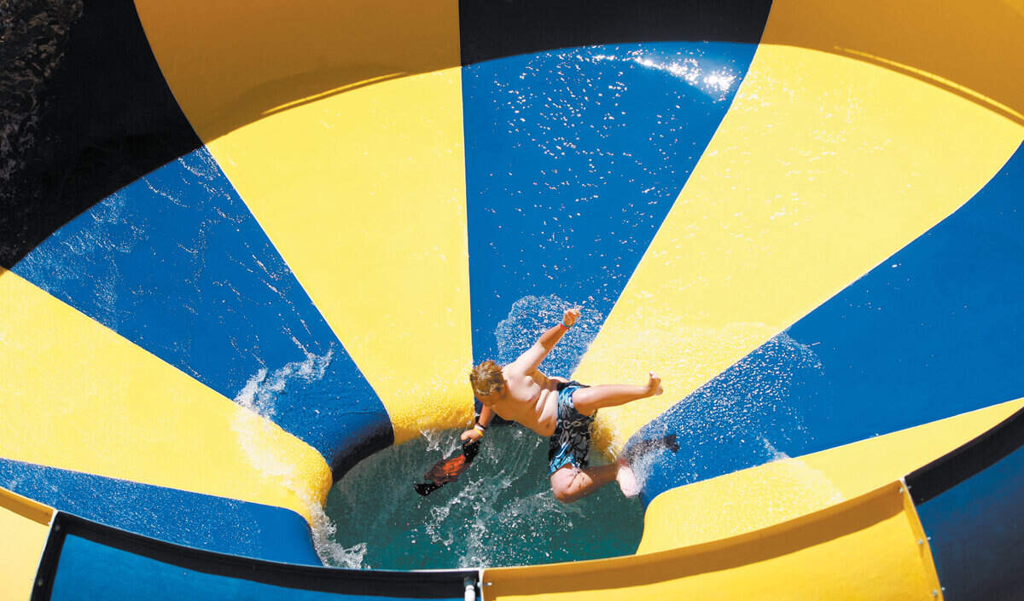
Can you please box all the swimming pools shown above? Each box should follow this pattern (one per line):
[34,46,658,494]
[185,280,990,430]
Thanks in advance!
[313,429,644,568]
